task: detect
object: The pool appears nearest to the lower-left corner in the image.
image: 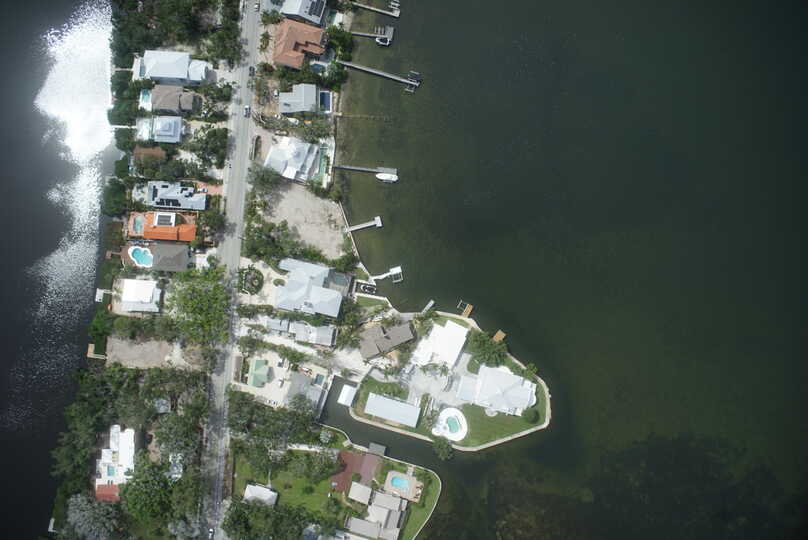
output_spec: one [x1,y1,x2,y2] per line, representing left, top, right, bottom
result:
[96,459,133,484]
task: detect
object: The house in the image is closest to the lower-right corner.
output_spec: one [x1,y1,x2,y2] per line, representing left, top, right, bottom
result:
[473,365,535,417]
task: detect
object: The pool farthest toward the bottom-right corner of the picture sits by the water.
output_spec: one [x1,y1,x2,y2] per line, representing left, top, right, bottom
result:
[432,407,466,441]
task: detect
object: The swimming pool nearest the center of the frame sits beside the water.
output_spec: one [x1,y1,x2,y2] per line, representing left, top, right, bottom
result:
[323,267,357,298]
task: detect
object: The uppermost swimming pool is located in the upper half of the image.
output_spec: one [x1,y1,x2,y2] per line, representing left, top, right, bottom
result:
[327,9,343,27]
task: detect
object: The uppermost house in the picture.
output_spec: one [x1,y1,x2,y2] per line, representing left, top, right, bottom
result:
[281,0,334,29]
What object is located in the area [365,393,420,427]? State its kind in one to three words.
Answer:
building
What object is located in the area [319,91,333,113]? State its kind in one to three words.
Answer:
swimming pool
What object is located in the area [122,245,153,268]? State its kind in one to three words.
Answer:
swimming pool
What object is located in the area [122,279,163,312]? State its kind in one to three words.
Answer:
house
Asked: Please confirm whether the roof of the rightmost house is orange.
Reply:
No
